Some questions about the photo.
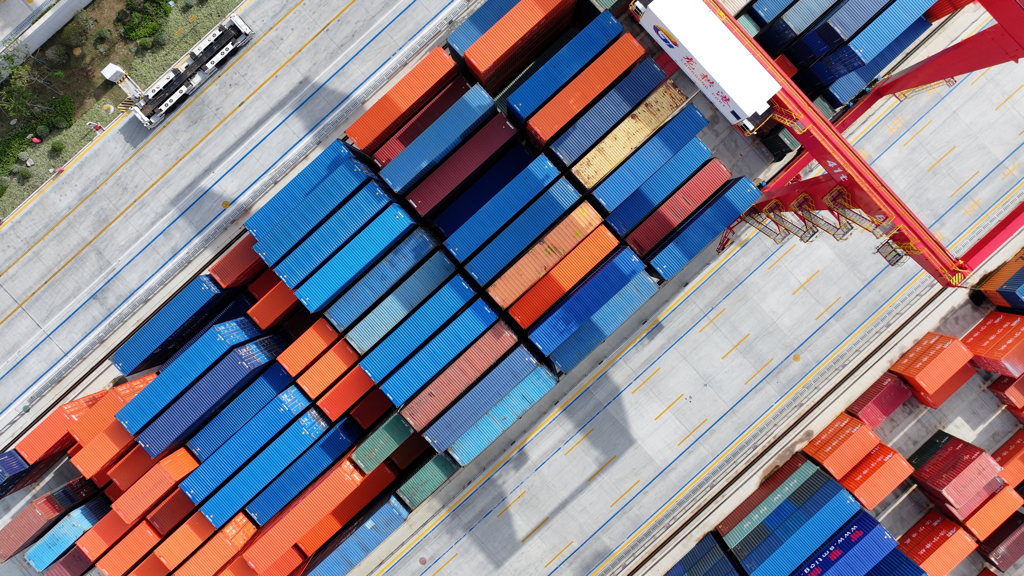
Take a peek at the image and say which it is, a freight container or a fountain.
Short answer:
freight container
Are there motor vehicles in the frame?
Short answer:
Yes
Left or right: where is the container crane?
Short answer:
right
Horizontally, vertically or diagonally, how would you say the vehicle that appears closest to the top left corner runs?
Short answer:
diagonally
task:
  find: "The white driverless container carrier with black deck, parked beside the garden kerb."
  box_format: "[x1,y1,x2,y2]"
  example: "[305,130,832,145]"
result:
[130,12,258,131]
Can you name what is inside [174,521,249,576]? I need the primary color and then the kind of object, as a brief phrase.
orange shipping container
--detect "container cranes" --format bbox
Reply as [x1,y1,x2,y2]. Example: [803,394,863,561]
[617,0,1024,293]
